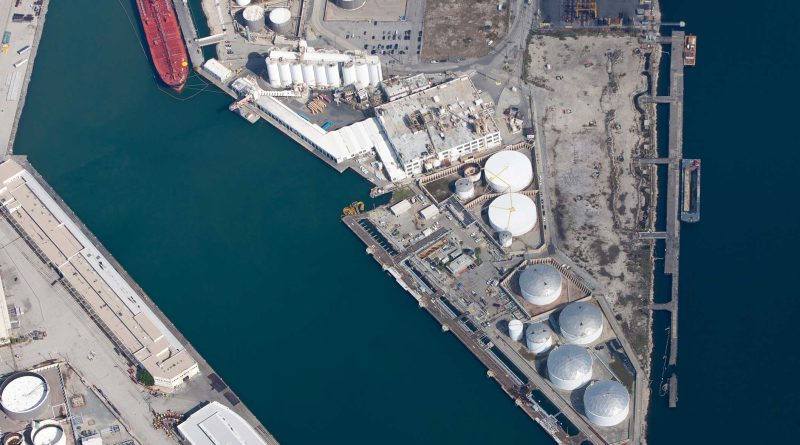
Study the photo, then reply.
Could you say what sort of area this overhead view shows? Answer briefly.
port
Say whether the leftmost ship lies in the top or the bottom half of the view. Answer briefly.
top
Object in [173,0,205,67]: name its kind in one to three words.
pier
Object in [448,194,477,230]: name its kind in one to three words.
shed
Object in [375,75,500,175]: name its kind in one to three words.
building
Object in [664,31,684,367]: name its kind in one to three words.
pier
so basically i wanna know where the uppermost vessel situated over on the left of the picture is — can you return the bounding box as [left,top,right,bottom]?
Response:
[137,0,189,97]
